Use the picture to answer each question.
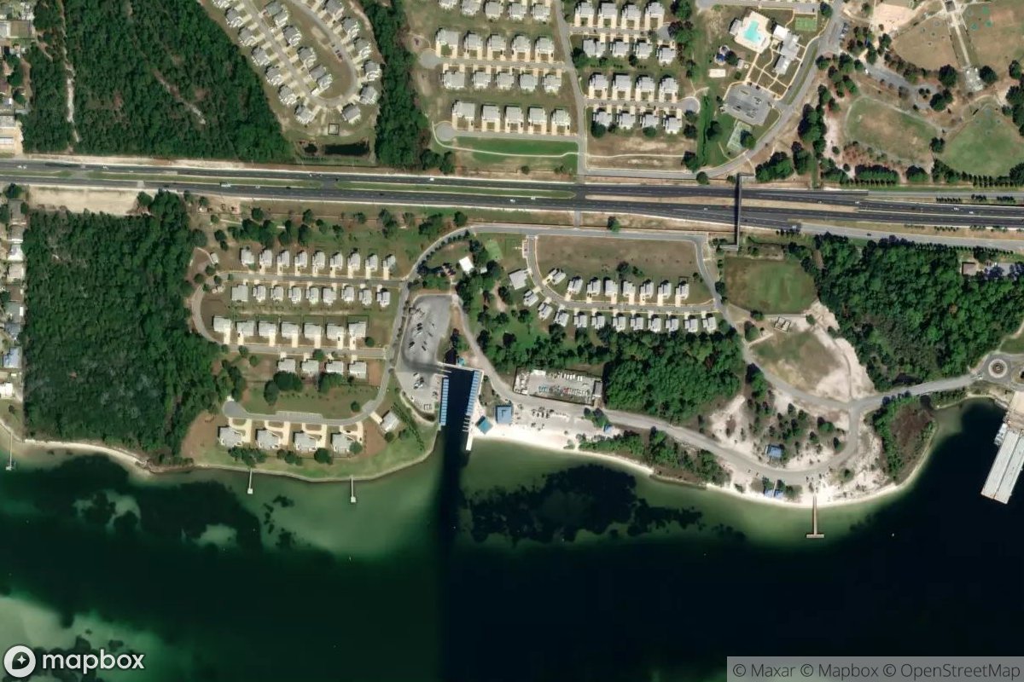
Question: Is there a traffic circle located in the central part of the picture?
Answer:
No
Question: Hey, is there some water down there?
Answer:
Yes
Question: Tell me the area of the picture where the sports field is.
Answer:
top right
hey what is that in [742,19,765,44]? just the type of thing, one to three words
swimming pool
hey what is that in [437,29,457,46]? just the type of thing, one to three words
house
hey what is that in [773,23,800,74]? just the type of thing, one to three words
building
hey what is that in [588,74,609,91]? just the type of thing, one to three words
house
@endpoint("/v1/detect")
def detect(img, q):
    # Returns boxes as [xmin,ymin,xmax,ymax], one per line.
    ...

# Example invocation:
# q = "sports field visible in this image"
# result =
[848,98,936,160]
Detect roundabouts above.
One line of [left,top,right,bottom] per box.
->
[982,352,1014,383]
